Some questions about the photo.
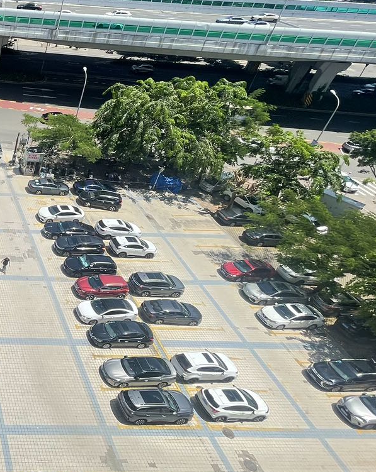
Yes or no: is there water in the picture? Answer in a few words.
No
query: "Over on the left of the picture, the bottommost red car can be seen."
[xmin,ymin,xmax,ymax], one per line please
[74,274,132,301]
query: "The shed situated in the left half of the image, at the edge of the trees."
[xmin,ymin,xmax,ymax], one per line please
[20,147,44,175]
